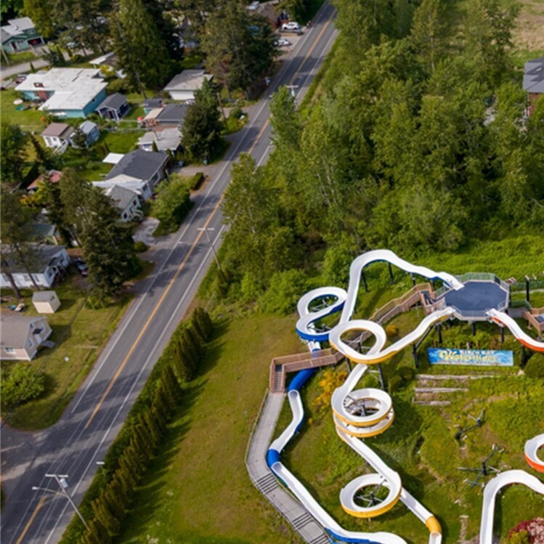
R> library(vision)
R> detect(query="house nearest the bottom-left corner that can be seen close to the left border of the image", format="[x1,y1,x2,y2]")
[0,316,50,360]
